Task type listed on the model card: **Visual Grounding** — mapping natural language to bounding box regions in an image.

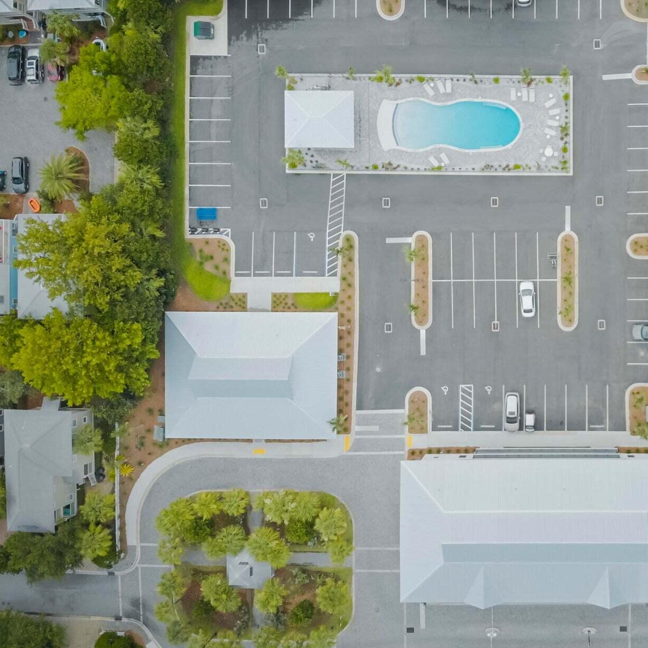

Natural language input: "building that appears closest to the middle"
[164,311,338,440]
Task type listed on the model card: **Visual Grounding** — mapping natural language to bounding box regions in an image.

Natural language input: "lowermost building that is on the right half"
[399,444,648,609]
